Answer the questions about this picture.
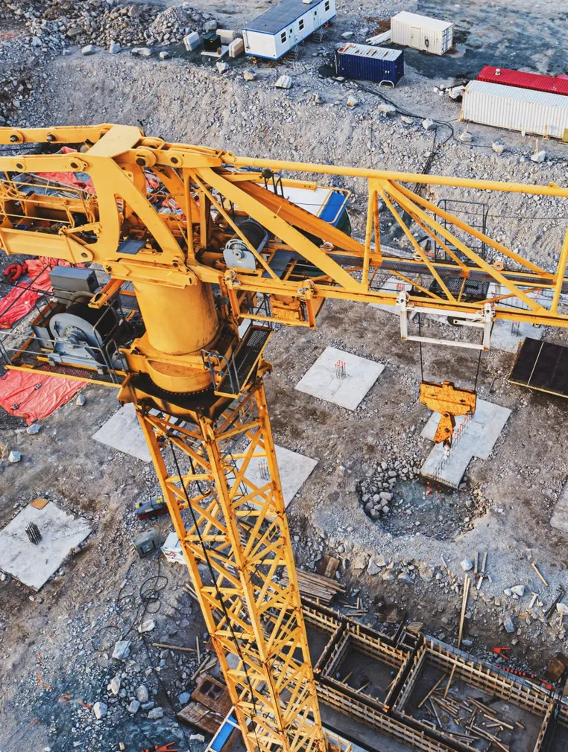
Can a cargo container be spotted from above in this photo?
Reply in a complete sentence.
Yes, the image includes a cargo container.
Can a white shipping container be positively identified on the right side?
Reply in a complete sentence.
Yes, you'll find a white shipping container on the right side.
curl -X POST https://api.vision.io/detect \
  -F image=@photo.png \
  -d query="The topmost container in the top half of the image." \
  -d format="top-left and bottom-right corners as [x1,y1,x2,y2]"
[392,5,456,56]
